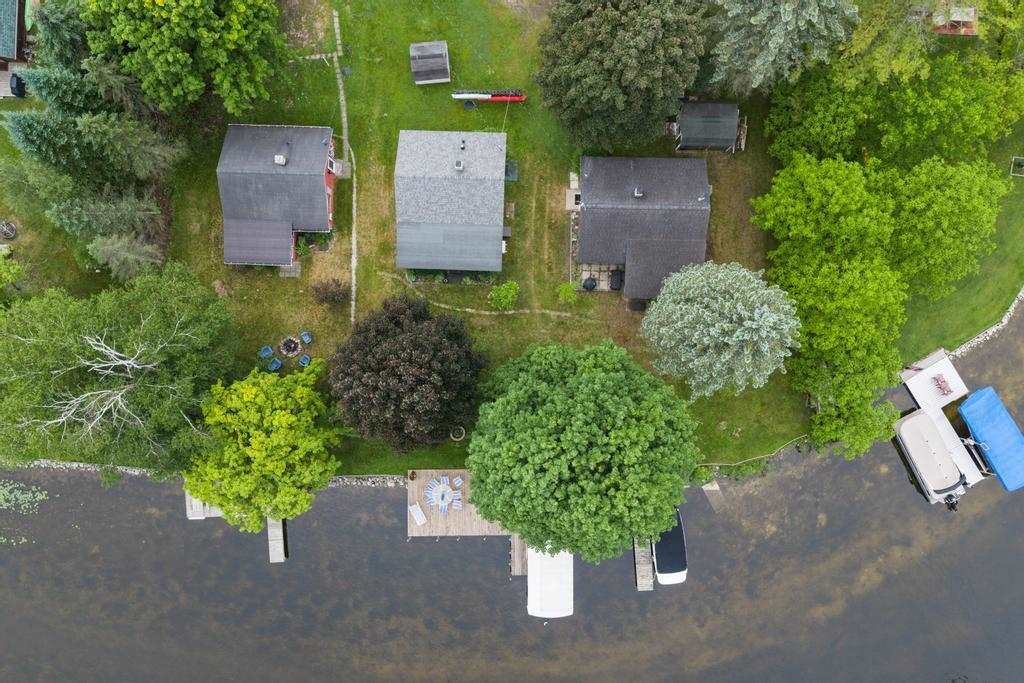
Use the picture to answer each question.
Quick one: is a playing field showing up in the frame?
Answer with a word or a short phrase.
No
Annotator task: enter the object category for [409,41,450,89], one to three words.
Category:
shed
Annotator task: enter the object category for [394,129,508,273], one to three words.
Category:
house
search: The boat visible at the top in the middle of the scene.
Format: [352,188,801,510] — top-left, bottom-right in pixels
[451,88,525,101]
